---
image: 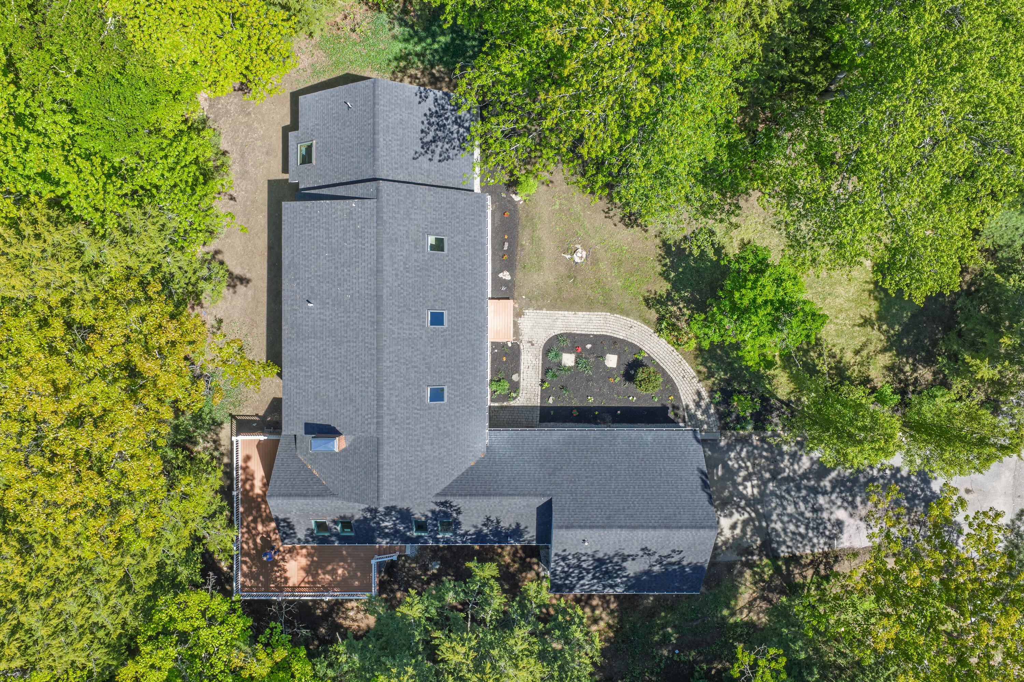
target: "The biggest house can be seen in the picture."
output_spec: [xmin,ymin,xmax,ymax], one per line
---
[267,78,716,596]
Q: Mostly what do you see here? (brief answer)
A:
trees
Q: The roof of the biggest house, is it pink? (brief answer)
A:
No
